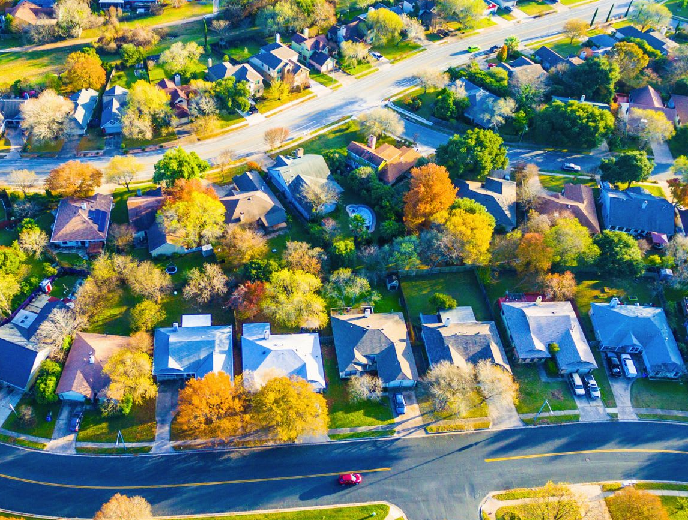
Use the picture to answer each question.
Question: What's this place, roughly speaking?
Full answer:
The picture captures a residential area.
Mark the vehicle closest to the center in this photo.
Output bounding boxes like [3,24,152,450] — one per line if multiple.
[394,394,406,412]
